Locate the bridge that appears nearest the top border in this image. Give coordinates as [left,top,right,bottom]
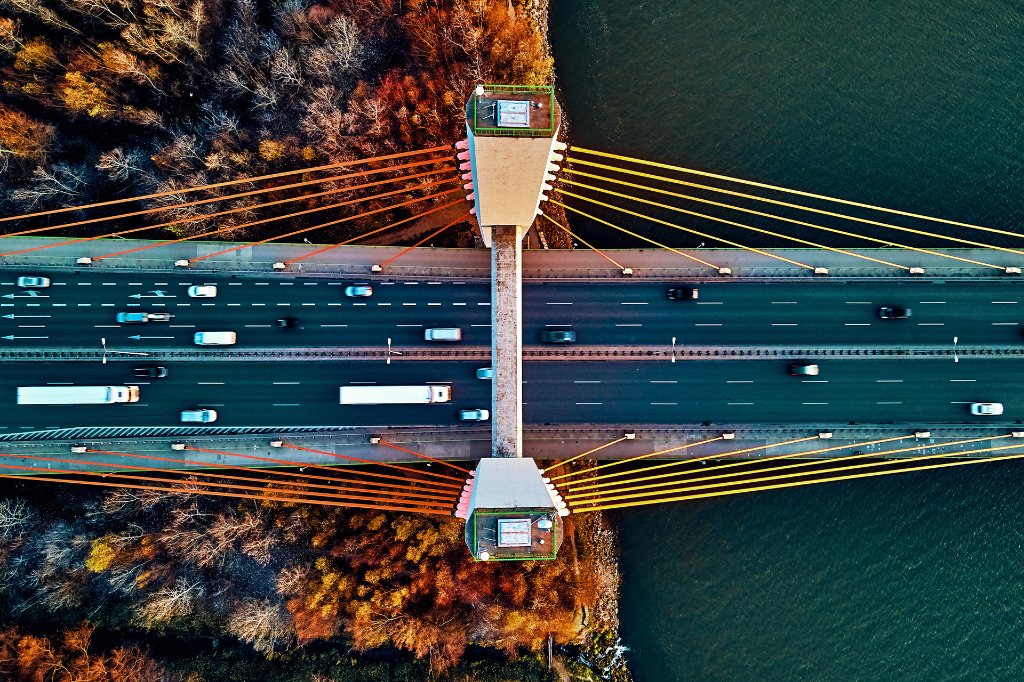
[0,85,1024,561]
